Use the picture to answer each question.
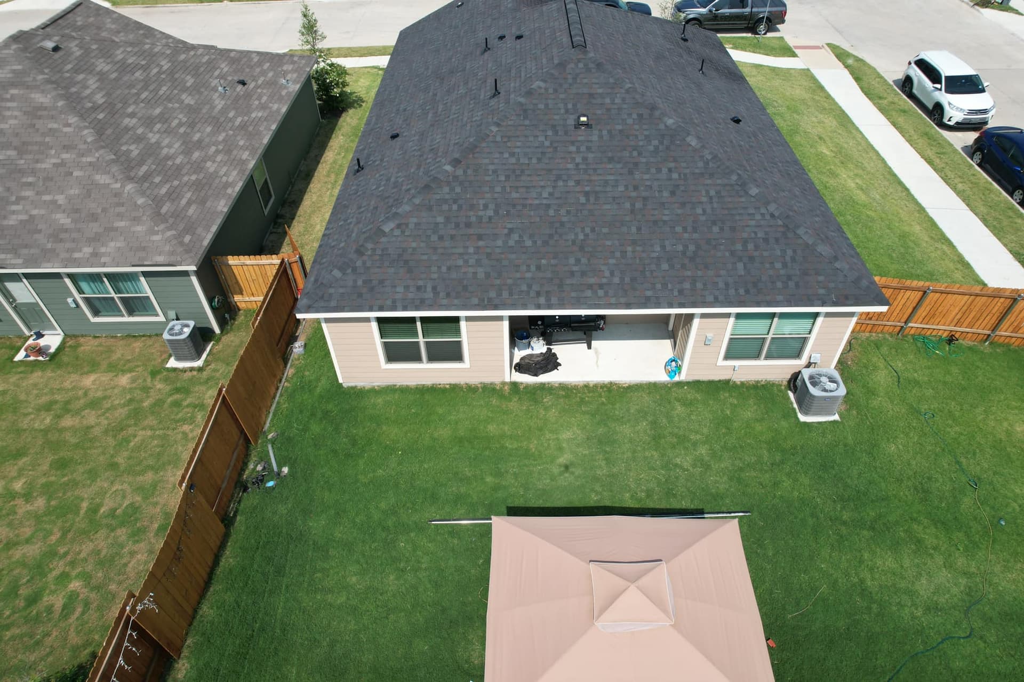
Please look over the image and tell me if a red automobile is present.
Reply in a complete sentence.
No, no red automobile is visible in the view.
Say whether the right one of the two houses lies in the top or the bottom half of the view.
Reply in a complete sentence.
The right one of the two houses is in the top half of the image.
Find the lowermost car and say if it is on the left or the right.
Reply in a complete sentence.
You can find the lowermost car on the right side of the picture.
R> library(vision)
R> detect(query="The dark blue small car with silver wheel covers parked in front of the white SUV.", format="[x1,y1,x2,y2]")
[972,125,1024,204]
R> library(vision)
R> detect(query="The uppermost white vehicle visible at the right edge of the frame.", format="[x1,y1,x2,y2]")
[901,50,999,131]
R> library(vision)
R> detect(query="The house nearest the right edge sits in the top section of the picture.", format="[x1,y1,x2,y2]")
[294,0,892,385]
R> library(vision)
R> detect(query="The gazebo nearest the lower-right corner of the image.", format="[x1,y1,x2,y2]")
[482,516,779,682]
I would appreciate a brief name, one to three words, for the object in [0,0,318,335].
house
